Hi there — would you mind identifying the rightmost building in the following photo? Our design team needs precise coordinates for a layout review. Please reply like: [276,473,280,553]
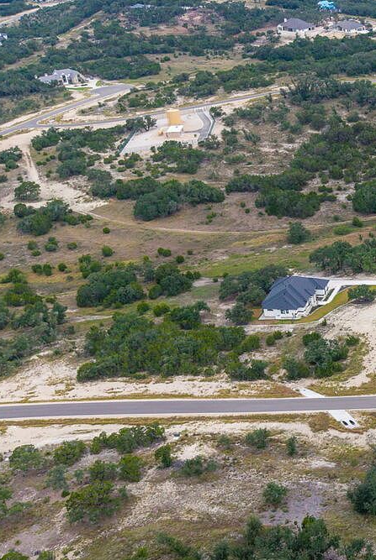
[332,20,371,34]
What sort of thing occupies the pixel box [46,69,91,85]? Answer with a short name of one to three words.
house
